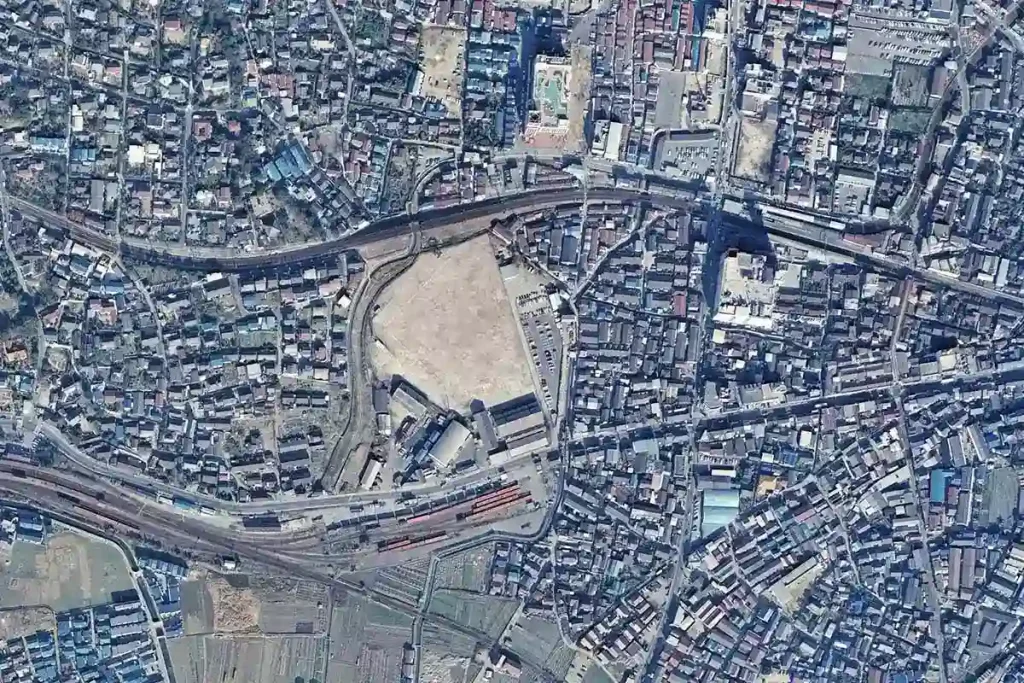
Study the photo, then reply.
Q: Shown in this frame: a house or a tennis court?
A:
house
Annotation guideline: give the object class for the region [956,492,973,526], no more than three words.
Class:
building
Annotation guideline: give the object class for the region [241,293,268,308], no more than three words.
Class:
house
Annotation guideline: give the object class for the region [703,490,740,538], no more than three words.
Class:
building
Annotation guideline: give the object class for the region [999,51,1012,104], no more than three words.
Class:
house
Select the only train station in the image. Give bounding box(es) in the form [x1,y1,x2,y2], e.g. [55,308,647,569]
[762,208,875,260]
